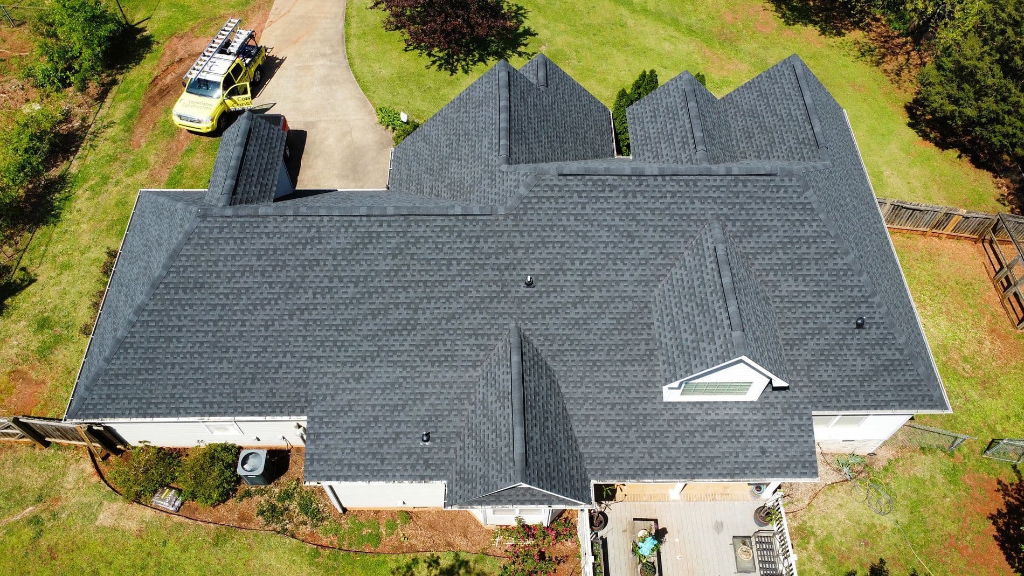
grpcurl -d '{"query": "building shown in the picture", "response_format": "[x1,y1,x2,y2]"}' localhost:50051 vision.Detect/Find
[60,51,955,537]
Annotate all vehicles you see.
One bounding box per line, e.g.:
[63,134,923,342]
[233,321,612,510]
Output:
[171,24,275,137]
[252,114,290,168]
